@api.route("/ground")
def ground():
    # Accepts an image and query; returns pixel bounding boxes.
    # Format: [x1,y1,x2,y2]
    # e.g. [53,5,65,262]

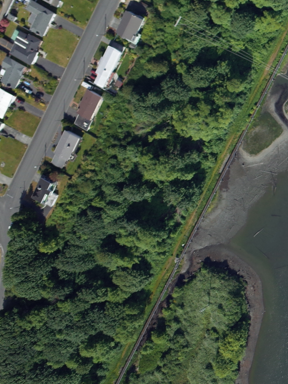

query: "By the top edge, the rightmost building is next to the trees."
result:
[117,9,147,45]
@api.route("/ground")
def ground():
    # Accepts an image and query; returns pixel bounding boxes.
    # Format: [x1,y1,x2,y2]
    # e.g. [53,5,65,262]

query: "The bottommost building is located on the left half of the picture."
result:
[31,176,62,207]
